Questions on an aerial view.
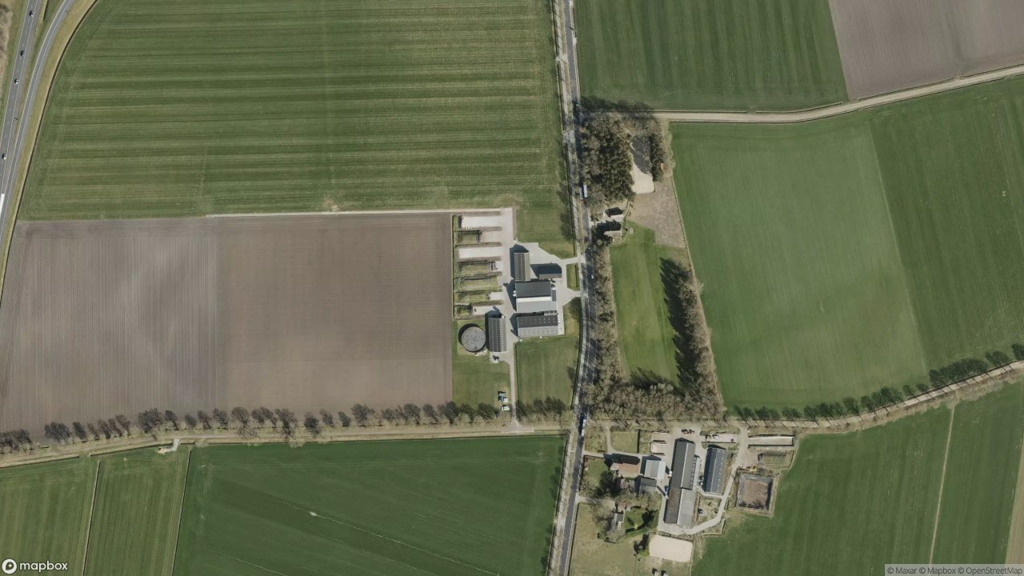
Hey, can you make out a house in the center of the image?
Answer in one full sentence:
Yes, a house shows up in the center of the image.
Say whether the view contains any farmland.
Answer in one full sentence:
Yes, the picture does contain farmland.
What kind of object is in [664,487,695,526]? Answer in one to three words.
barn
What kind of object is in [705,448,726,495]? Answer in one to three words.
barn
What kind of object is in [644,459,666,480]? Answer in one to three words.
shed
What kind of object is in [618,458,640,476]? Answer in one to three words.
house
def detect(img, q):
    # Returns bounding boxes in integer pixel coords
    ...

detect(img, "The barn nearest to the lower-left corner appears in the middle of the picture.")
[489,317,506,352]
